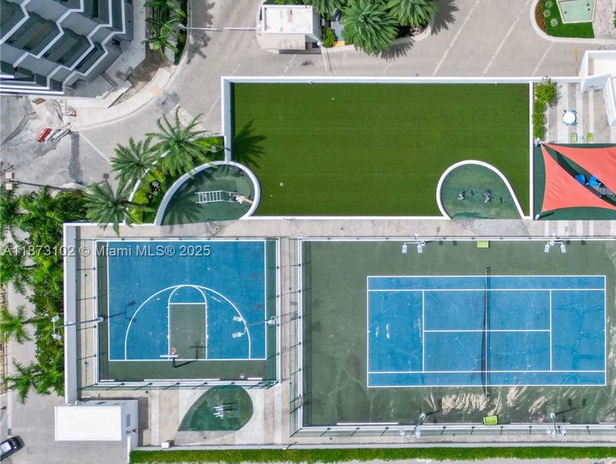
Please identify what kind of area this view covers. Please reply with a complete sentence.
This image shows a sports ground.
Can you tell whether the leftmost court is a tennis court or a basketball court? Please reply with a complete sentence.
The leftmost court is a basketball court.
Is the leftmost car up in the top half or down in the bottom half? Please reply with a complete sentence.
It is in the bottom half that the leftmost car appears.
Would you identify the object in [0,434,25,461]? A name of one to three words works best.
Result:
car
